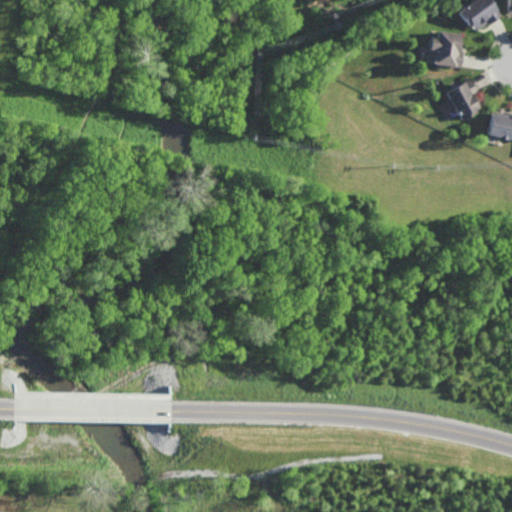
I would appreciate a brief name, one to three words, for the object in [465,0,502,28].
house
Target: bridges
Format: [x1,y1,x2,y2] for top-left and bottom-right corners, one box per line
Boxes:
[13,386,172,430]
